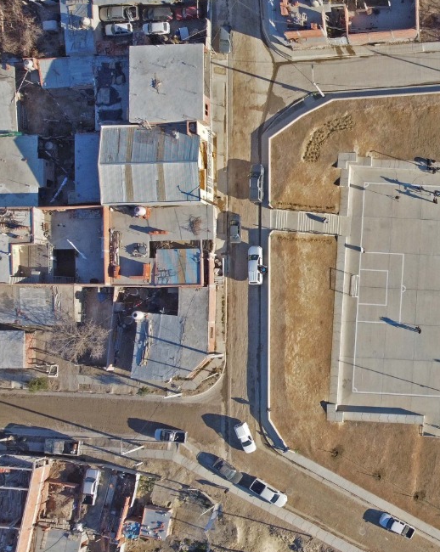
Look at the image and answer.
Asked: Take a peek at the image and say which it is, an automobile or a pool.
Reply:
automobile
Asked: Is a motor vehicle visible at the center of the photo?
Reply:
Yes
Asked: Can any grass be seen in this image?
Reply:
Yes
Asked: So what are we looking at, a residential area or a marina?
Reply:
residential area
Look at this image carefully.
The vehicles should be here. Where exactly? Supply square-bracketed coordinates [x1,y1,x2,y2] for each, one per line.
[152,427,189,444]
[142,20,171,37]
[44,437,84,454]
[248,163,266,204]
[247,246,265,284]
[376,511,418,540]
[82,466,103,505]
[170,3,201,20]
[99,5,139,22]
[104,21,134,38]
[208,455,246,485]
[217,24,233,54]
[226,213,242,242]
[233,418,257,456]
[248,476,290,507]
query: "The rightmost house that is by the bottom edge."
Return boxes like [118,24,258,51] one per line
[139,501,180,539]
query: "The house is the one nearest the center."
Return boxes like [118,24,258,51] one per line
[154,248,204,284]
